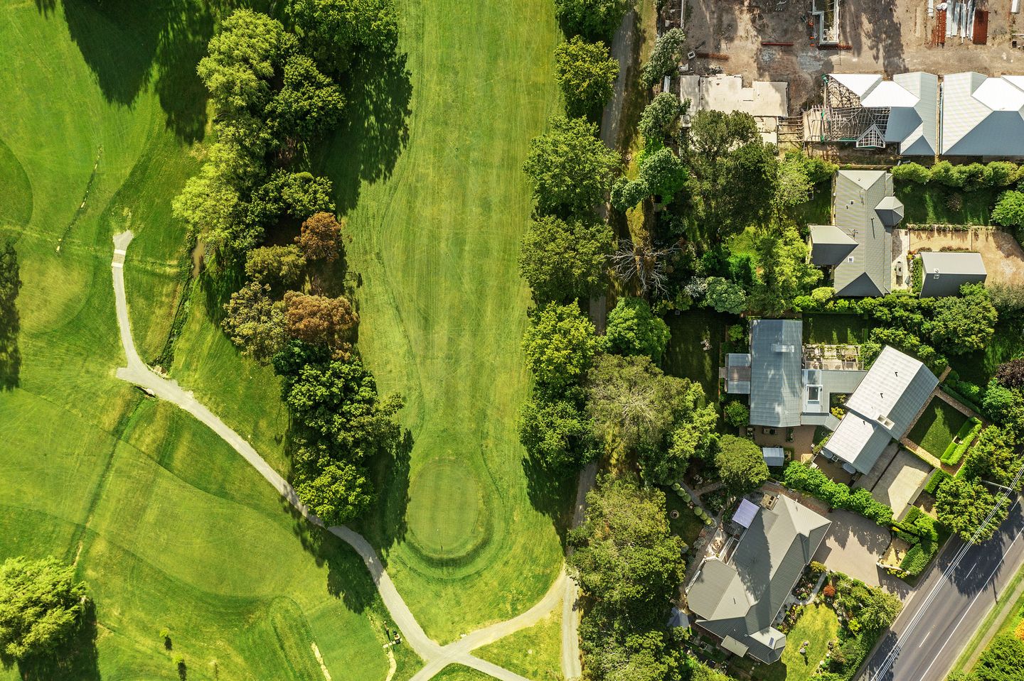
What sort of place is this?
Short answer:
golf course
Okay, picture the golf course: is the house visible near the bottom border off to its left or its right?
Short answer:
on its right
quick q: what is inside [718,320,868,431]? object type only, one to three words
house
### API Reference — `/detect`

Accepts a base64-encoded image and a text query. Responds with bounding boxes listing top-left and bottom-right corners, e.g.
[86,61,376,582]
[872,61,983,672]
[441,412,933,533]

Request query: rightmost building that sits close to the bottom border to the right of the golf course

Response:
[685,494,832,665]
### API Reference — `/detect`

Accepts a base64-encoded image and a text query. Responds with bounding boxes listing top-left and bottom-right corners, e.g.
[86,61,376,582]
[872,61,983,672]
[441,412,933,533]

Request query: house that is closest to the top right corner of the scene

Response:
[937,71,1024,156]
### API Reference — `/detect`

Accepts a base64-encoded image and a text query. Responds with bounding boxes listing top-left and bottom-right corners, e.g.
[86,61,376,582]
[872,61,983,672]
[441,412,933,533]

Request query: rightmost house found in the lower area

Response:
[824,345,940,475]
